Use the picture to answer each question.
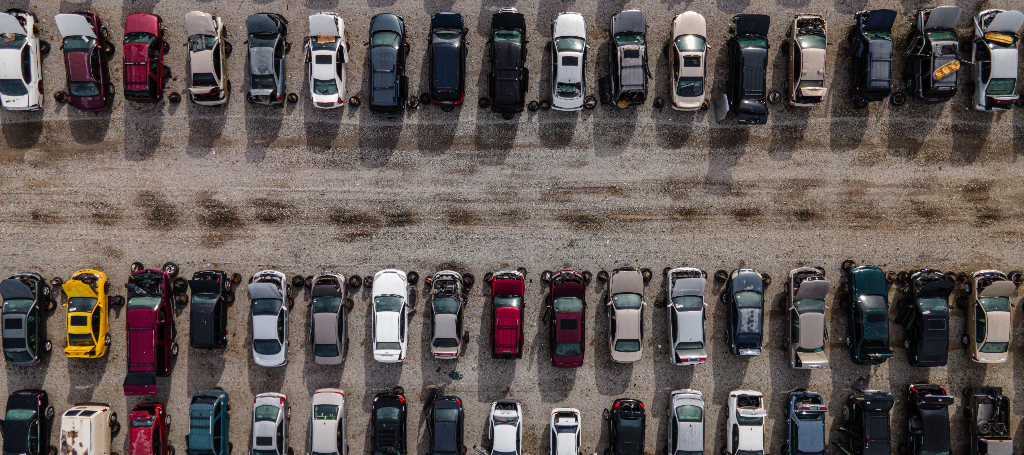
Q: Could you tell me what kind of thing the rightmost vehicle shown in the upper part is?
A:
automobile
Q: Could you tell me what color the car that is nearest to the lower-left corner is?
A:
black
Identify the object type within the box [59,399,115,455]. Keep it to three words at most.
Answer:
van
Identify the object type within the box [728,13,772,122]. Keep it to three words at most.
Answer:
car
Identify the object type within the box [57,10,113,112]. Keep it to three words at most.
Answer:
car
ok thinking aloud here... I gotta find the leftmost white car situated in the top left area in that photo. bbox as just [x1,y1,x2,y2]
[0,9,46,110]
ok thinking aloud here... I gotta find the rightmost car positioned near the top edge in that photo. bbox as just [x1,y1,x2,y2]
[972,10,1021,111]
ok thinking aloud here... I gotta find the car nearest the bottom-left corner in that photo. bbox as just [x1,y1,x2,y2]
[1,389,52,455]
